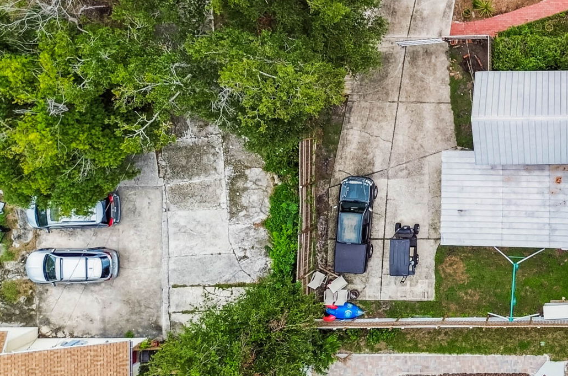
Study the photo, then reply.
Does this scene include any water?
No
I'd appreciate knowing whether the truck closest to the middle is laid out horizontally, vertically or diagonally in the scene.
vertically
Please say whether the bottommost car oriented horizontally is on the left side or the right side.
left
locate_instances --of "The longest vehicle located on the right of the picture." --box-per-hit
[328,171,377,278]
